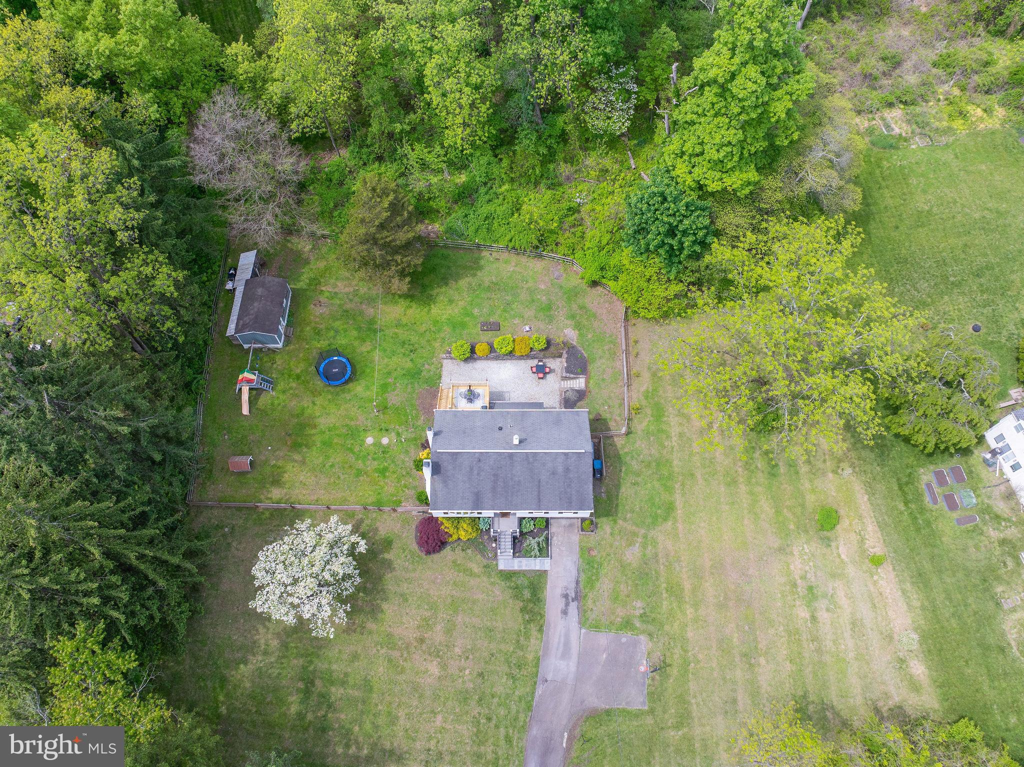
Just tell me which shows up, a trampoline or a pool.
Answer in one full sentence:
I can see a trampoline in this picture.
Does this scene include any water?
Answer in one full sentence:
No, the picture contains no water.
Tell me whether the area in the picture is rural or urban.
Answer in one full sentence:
From above, the setting appears rural.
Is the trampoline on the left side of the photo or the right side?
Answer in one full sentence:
You can find the trampoline on the left side of the picture.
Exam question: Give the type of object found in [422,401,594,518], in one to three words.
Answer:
house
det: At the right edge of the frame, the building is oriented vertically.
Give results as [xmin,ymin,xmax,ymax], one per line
[985,413,1024,508]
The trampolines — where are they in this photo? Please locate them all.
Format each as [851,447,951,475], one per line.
[314,345,356,388]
